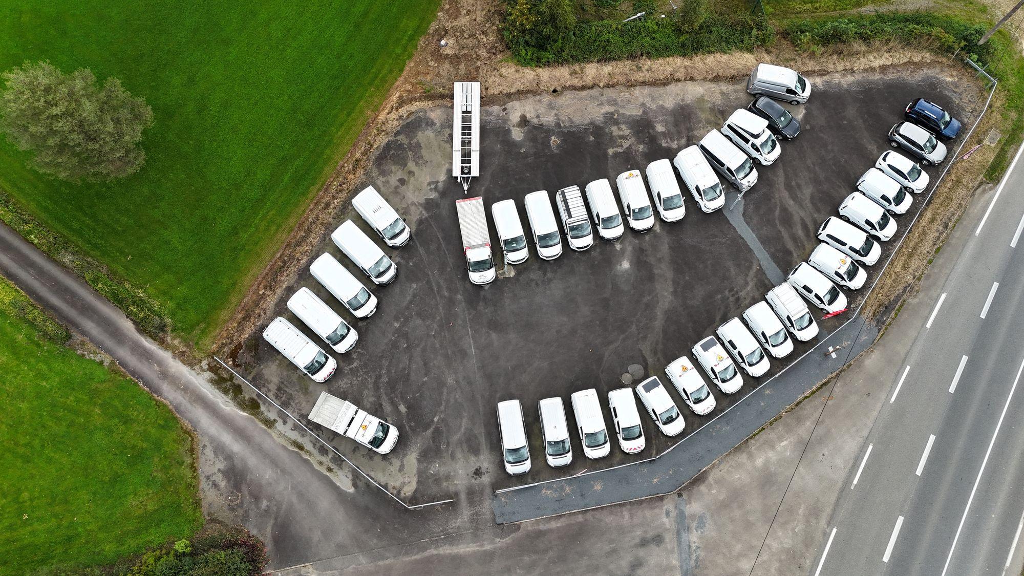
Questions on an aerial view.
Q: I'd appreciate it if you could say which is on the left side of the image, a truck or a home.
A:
truck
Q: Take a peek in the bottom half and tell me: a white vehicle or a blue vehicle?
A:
white vehicle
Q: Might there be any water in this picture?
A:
No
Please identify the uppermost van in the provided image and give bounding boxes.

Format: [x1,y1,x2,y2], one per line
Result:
[748,63,812,106]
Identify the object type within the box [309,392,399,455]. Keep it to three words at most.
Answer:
truck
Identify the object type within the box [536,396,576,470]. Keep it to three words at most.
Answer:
vehicle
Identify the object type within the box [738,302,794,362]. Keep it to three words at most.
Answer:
van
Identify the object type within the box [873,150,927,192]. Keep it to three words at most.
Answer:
car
